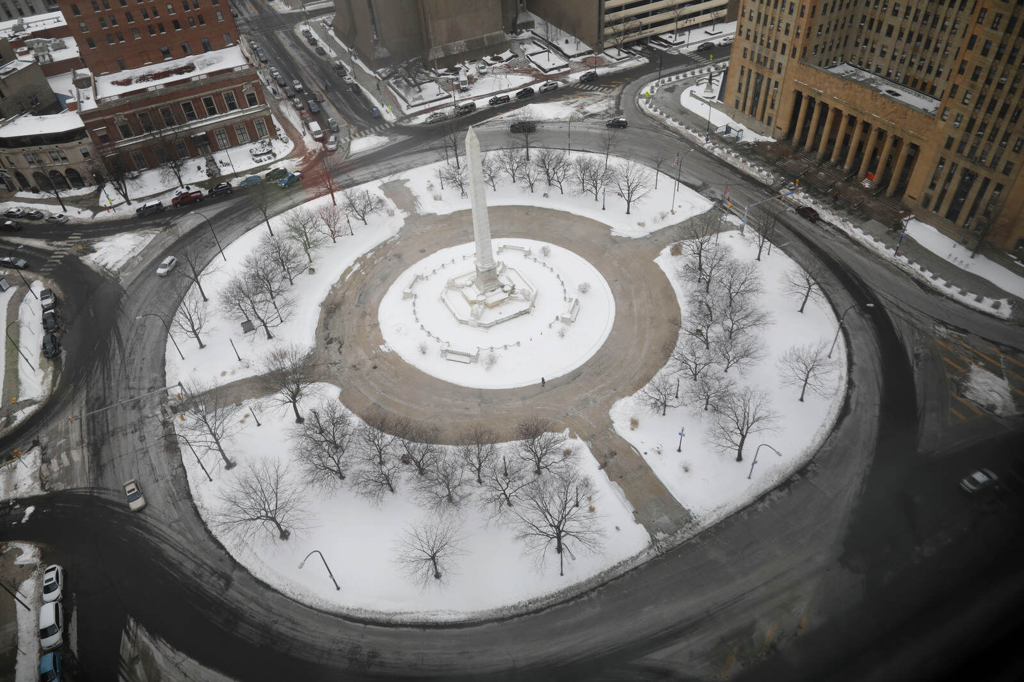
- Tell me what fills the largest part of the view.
paved ground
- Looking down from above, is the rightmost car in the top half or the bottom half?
bottom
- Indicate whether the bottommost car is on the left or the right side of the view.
left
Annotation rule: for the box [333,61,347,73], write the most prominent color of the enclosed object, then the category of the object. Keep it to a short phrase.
black vehicle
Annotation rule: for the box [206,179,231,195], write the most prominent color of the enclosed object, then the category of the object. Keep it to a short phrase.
black car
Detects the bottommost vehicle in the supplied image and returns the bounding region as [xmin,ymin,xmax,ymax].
[34,642,61,682]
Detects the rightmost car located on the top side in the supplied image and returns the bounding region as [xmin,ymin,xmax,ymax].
[795,200,822,221]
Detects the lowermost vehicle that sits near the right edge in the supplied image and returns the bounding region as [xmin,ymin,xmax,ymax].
[958,466,1004,492]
